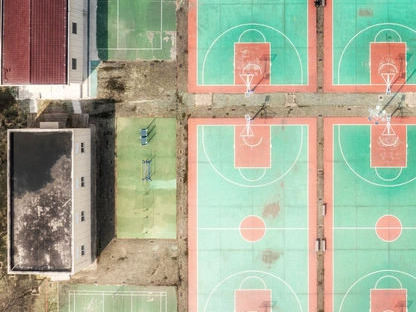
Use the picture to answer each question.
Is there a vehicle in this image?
No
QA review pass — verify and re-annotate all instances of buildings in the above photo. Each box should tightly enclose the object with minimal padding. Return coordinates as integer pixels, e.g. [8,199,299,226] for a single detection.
[8,119,92,273]
[1,0,86,85]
